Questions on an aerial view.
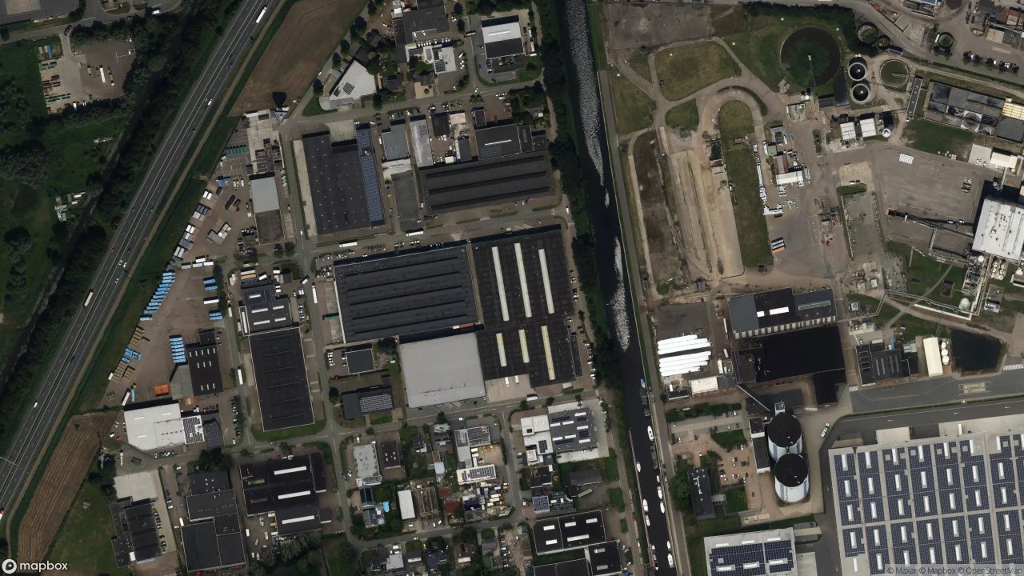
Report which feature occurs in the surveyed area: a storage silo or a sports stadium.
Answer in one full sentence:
Visible in the photo is a storage silo.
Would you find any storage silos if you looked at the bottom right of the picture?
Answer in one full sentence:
Yes, at the bottom right of the picture there is a storage silo.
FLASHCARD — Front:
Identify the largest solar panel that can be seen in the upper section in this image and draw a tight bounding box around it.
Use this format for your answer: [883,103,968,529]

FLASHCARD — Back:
[361,150,383,218]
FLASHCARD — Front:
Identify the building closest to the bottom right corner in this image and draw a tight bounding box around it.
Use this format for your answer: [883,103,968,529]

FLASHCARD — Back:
[828,429,1024,576]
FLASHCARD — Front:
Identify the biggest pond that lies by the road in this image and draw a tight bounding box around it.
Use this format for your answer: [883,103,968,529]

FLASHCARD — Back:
[952,330,1003,373]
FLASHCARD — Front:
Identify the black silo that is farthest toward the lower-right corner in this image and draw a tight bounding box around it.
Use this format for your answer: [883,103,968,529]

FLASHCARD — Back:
[773,453,809,500]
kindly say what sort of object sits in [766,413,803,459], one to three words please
silo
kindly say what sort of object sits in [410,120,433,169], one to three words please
building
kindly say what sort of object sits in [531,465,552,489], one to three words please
house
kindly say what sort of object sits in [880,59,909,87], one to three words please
storage tank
